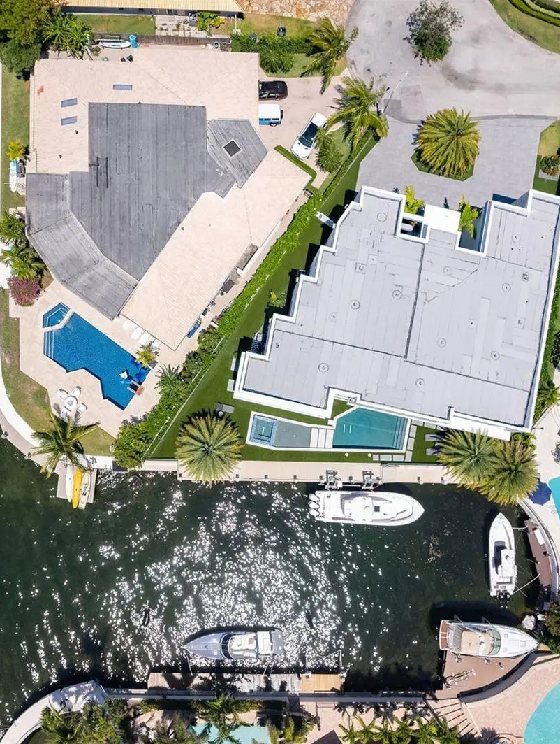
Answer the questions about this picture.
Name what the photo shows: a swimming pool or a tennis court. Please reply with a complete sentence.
Looking from above, you can make out a swimming pool.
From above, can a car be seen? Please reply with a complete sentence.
Yes, the picture does show a car.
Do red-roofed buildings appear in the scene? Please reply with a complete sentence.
No, no red-roofed building is visible in the view.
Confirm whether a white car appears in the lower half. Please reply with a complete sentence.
No, in the lower half there is no white car.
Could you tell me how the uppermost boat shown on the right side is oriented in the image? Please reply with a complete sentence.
The uppermost boat shown on the right side runs horizontally in the image.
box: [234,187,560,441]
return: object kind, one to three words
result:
house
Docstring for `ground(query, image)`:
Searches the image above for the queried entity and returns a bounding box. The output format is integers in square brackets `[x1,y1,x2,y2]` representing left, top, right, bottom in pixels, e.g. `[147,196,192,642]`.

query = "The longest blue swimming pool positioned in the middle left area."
[41,309,151,414]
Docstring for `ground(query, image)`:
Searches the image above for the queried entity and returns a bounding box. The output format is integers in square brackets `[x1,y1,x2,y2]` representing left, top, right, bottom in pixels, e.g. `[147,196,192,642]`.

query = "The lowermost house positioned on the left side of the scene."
[26,45,312,351]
